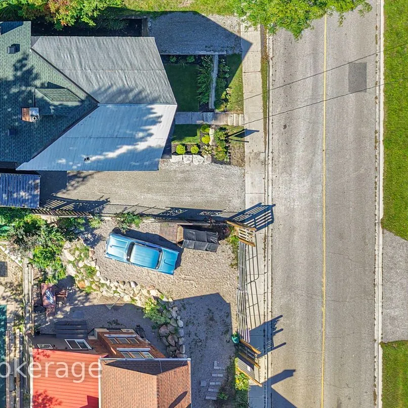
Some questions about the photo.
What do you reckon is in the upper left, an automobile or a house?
house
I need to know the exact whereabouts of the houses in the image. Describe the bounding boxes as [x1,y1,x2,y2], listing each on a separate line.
[0,20,180,172]
[28,322,192,408]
